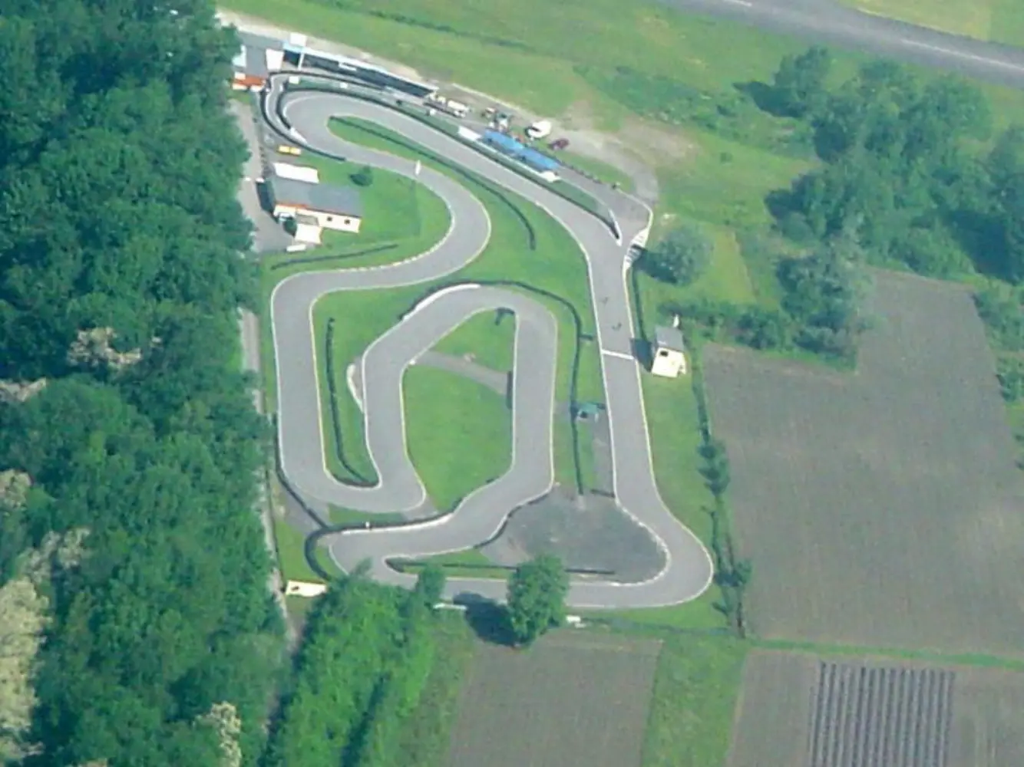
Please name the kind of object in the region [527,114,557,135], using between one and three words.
vehicle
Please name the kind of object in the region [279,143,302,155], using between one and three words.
vehicle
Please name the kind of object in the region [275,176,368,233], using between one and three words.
building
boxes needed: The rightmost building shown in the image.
[653,327,688,377]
